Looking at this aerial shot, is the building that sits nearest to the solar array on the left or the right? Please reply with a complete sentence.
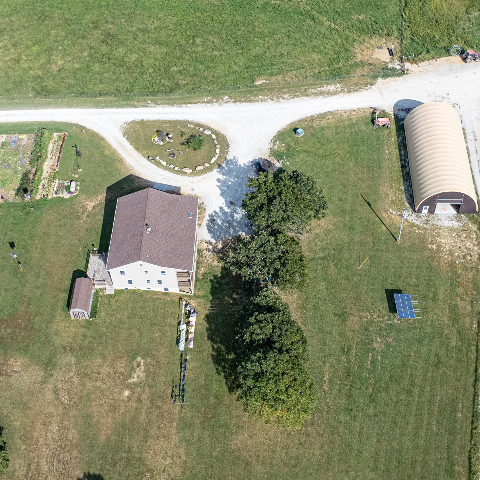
The building that sits nearest to the solar array is on the right side of the image.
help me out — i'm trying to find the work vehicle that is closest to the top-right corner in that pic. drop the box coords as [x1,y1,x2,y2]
[463,47,480,63]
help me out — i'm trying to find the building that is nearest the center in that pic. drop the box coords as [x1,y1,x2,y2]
[86,186,198,294]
